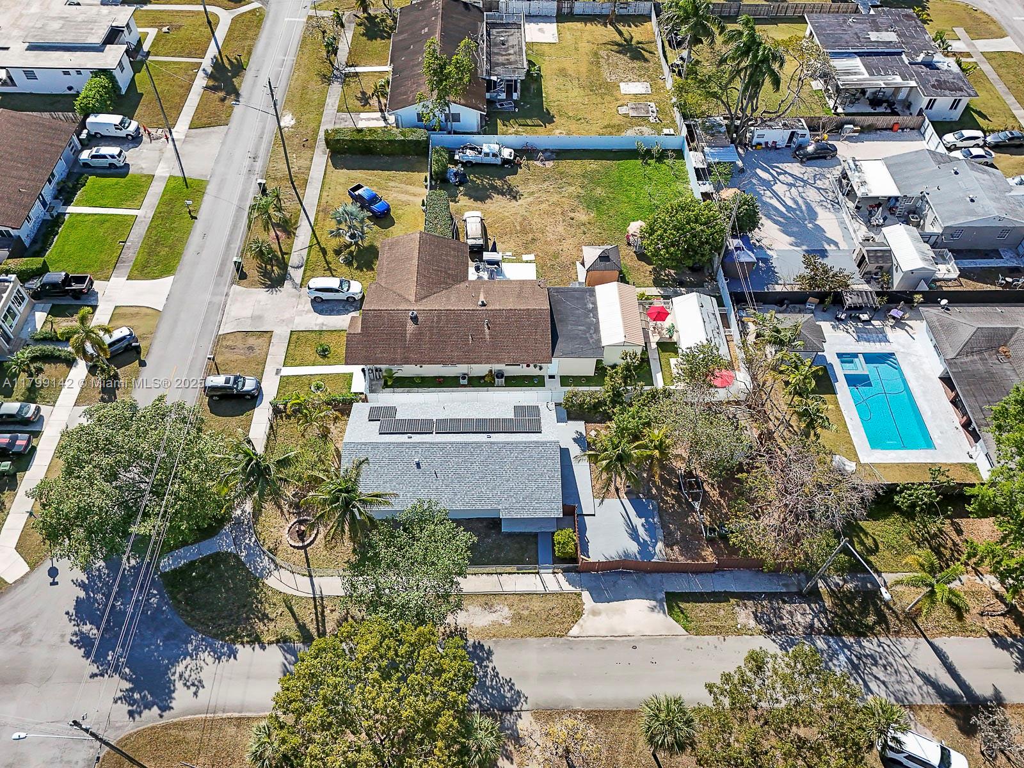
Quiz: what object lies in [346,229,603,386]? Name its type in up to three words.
house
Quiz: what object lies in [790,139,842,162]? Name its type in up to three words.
car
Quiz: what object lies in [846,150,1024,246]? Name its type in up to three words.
house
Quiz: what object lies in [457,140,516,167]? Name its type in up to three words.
truck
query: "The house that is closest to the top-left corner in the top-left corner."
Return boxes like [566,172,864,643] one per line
[0,0,145,94]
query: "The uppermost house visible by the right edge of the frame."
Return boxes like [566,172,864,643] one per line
[803,5,979,119]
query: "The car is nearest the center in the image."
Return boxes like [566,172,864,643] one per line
[459,207,484,244]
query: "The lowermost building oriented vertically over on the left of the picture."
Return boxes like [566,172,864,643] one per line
[0,274,34,358]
